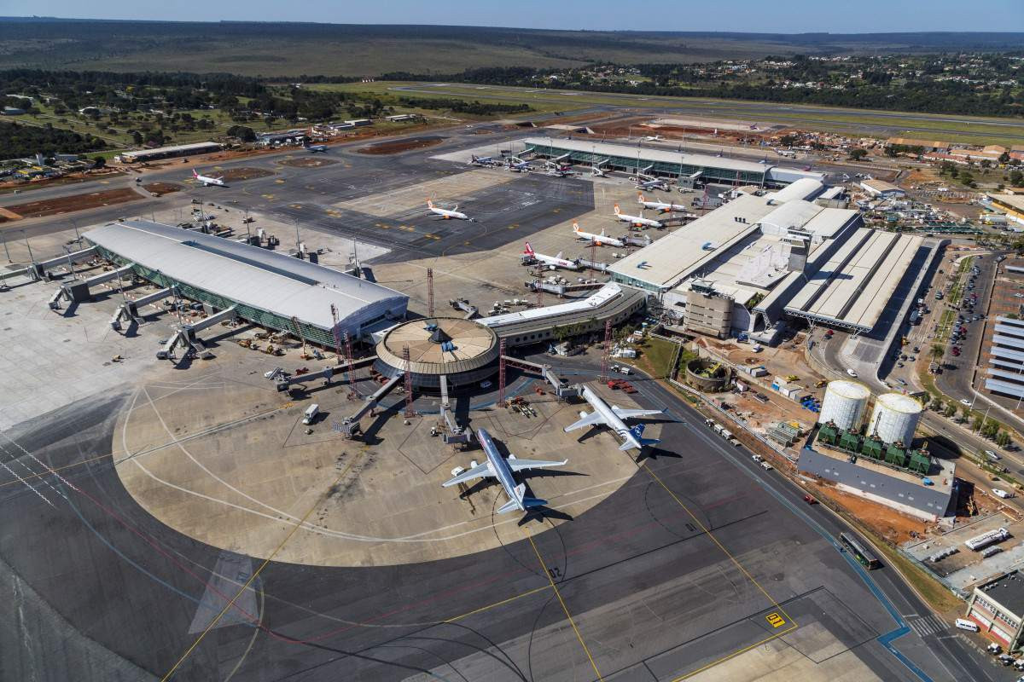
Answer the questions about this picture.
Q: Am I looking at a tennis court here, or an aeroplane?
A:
aeroplane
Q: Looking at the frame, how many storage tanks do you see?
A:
2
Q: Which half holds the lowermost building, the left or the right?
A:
right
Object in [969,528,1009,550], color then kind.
white truck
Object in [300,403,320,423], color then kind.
white vehicle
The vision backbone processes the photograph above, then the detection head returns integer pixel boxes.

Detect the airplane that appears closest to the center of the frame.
[523,240,576,271]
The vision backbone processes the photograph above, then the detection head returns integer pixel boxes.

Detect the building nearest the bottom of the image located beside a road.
[967,573,1024,655]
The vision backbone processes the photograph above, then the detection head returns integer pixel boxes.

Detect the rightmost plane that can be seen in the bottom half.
[565,385,664,453]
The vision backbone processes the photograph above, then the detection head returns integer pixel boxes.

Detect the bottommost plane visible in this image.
[442,430,561,518]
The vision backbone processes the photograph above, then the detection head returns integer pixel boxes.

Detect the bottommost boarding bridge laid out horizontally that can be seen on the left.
[274,358,379,395]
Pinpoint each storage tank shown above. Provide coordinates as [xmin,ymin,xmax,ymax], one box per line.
[865,389,923,450]
[819,377,872,435]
